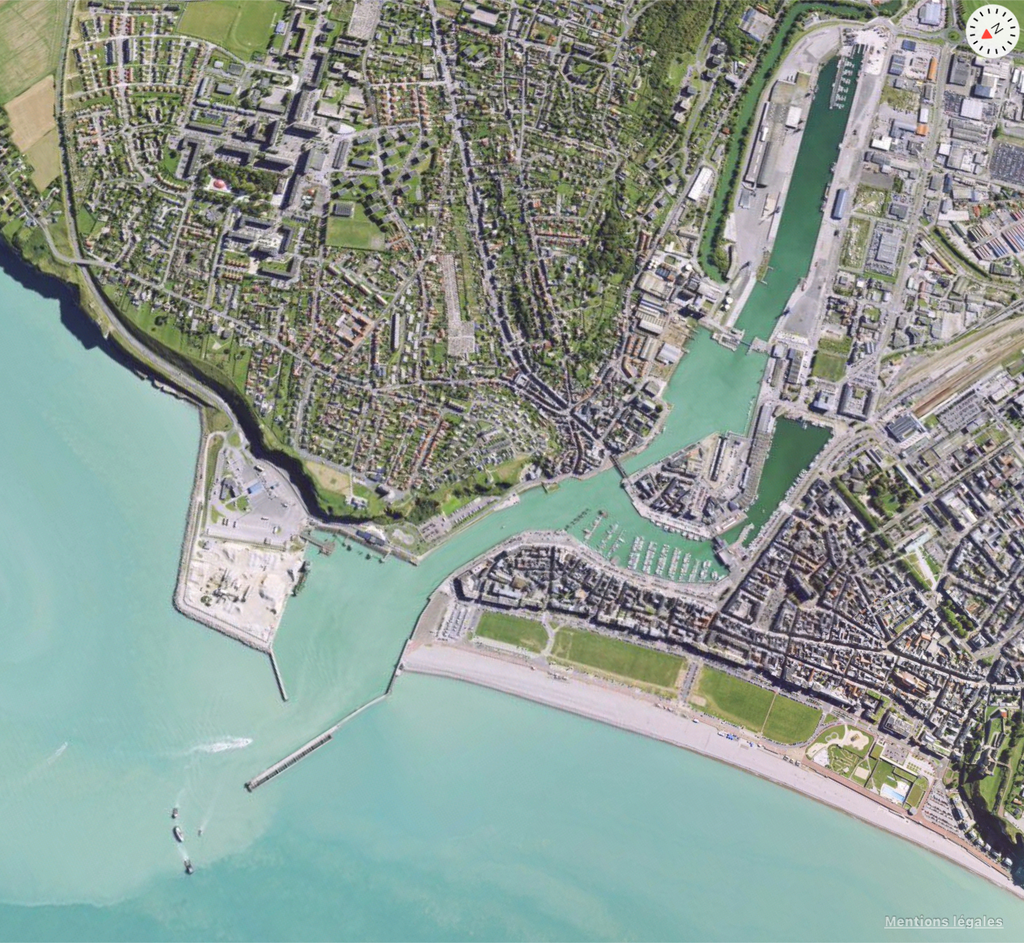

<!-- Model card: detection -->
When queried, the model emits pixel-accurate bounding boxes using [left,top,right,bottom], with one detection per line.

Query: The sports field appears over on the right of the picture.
[812,353,847,380]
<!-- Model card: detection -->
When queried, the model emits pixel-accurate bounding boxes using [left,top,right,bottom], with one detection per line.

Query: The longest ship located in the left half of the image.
[292,562,307,593]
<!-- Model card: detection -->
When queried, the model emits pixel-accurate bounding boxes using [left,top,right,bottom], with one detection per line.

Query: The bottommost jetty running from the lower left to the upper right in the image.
[245,627,419,791]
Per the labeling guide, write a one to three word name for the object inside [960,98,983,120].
building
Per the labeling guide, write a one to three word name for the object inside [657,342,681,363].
building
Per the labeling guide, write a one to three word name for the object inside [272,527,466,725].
harbor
